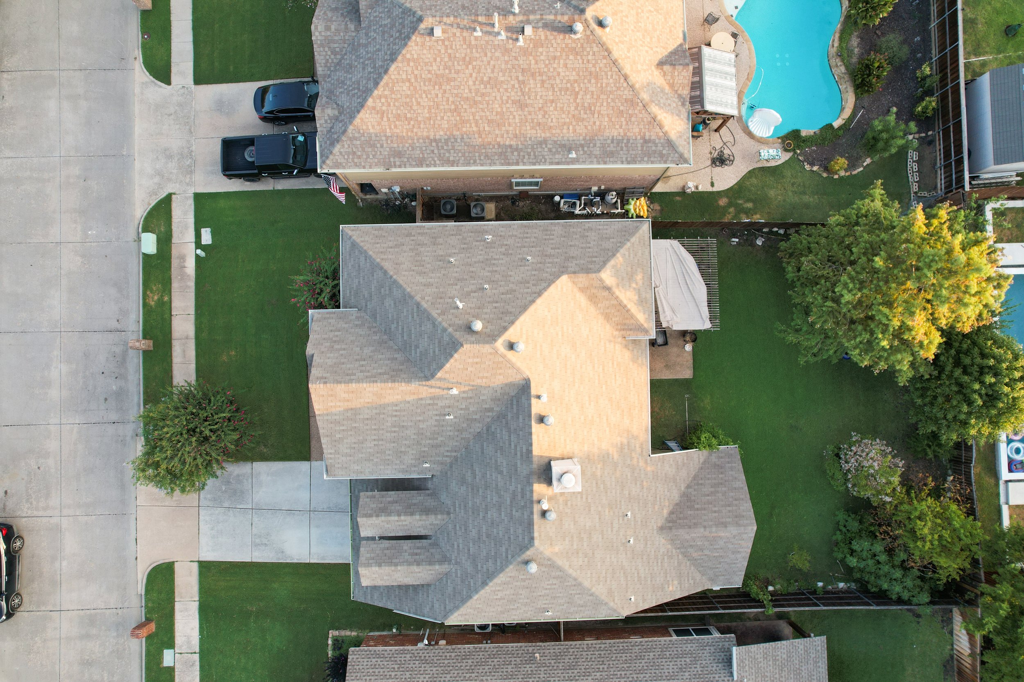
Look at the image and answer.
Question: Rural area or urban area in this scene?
urban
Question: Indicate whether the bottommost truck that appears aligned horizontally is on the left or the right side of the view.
left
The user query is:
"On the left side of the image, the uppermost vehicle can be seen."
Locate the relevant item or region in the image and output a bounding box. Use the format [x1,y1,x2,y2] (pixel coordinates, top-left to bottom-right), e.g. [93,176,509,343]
[254,79,317,123]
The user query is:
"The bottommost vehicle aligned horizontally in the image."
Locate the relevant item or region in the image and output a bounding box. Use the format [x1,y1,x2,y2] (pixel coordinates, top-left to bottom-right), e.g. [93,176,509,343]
[221,131,333,180]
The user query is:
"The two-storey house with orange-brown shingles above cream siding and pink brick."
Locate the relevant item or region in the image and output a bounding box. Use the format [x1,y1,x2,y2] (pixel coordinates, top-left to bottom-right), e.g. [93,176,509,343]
[311,0,694,214]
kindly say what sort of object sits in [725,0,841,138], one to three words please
swimming pool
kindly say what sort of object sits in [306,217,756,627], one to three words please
house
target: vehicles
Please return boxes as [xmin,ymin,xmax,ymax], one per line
[0,525,24,621]
[221,131,333,180]
[254,79,317,123]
